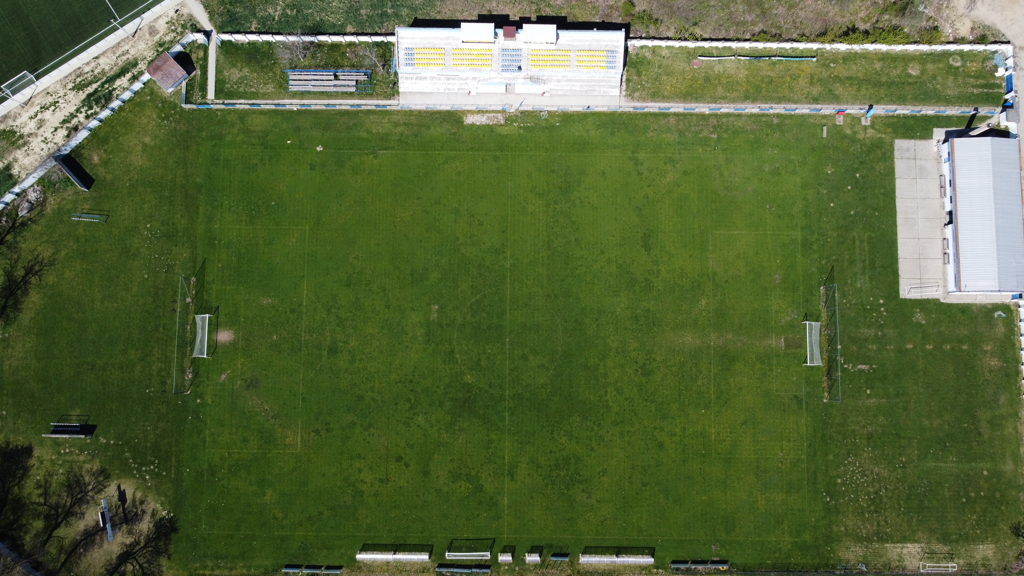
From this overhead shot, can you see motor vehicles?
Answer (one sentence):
No, the picture doesn't show any motor vehicle.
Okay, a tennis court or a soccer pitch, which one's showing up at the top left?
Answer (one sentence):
Visible at the top left is a soccer pitch.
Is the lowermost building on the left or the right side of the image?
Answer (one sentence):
It is on the right.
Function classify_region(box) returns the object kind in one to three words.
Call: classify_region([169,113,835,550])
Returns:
soccer field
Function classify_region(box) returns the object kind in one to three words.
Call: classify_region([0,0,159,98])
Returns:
soccer field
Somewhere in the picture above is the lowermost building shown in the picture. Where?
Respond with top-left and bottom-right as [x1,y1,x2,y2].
[940,135,1024,293]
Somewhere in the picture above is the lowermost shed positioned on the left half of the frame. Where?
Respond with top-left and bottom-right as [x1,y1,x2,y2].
[146,52,190,94]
